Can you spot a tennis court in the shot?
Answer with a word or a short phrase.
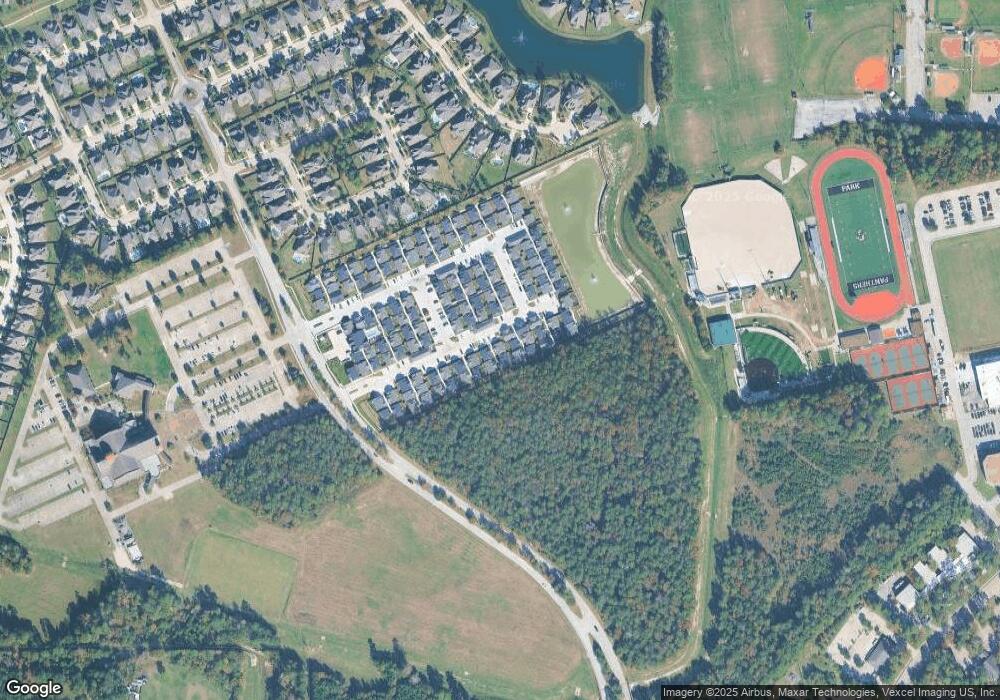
Yes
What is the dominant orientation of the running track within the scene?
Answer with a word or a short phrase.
from top to bottom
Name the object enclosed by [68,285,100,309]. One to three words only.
building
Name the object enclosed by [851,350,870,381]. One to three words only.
tennis court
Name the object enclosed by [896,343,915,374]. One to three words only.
tennis court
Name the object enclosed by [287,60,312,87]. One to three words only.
house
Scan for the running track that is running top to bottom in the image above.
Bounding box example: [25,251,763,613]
[812,148,908,322]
